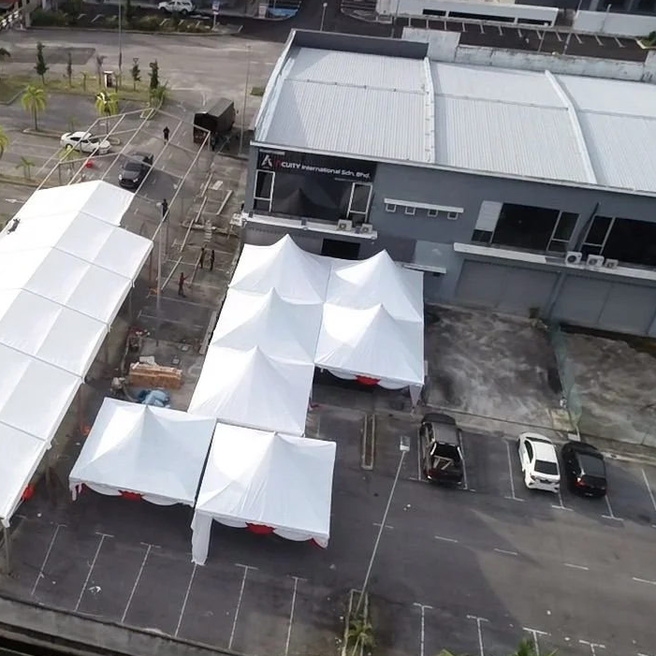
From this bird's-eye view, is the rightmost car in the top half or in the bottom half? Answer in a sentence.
The bottom half of the photo is where the rightmost car is.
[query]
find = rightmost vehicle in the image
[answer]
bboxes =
[553,426,610,492]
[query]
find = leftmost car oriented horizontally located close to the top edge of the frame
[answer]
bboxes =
[161,0,200,15]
